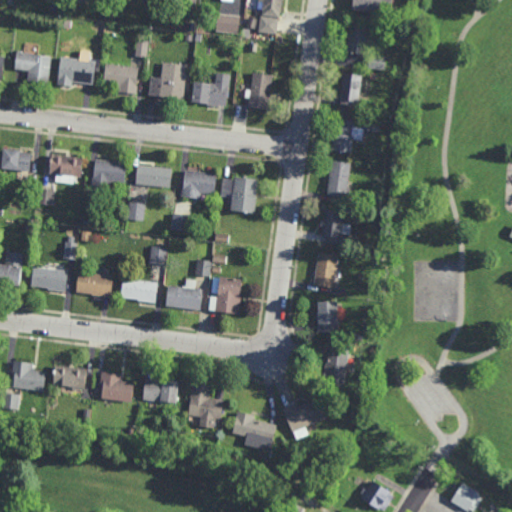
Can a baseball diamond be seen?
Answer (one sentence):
No, I can see no baseball diamond in this picture.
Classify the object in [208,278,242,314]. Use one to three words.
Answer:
house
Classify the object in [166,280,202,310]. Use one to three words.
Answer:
house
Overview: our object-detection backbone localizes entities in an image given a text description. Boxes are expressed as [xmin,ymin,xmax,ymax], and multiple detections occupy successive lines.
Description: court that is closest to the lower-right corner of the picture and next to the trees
[414,262,459,322]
